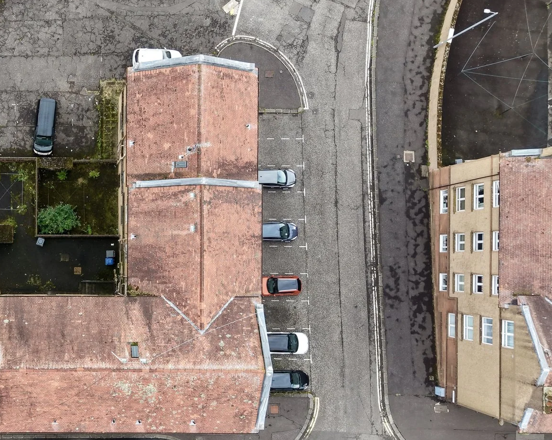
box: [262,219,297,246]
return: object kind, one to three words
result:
car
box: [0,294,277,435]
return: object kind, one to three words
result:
building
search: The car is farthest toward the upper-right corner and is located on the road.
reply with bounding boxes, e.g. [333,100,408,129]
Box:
[260,165,296,191]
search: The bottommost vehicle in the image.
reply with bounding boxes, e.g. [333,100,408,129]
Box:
[274,369,310,395]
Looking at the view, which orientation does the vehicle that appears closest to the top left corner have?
from top to bottom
